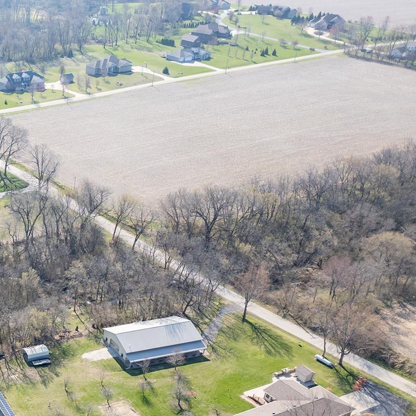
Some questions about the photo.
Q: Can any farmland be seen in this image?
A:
Yes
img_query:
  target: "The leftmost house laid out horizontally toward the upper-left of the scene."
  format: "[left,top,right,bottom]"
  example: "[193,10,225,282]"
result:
[0,69,48,91]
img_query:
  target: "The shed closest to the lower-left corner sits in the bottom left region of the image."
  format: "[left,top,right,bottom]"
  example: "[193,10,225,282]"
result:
[23,345,51,362]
